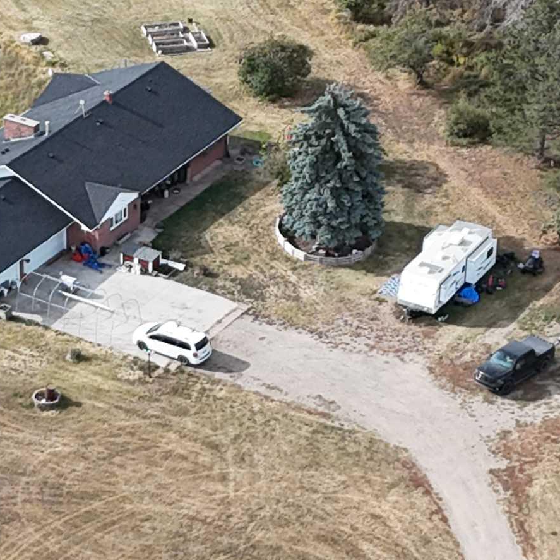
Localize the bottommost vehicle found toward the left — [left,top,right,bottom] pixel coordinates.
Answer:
[129,320,214,365]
